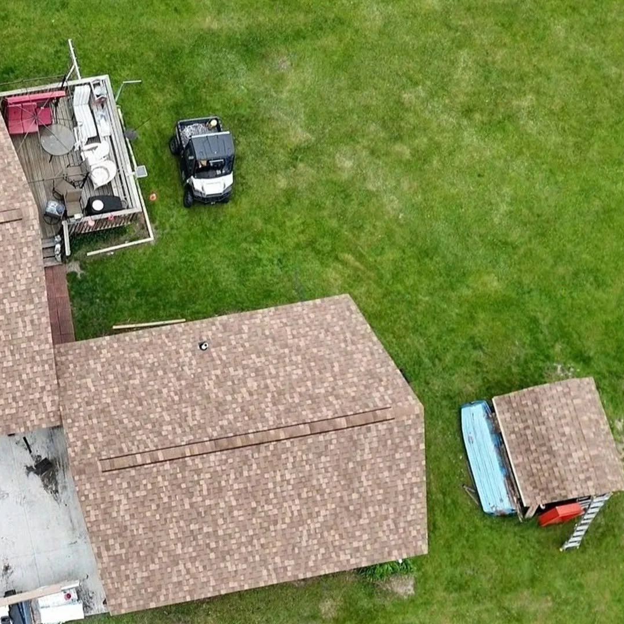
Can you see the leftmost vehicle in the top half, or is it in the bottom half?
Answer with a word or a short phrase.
top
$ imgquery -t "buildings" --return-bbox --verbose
[54,293,428,616]
[481,377,624,522]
